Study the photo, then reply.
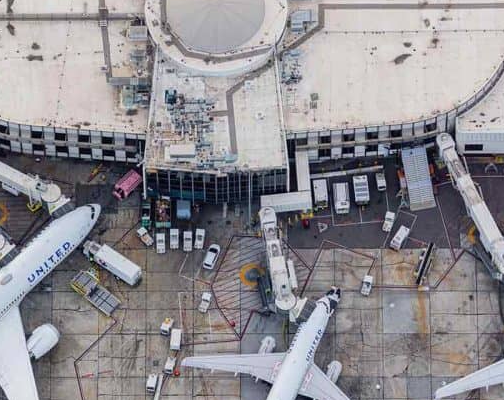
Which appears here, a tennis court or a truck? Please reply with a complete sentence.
The one in the frame is a truck.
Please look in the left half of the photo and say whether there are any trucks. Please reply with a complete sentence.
Yes, a truck is visible in the left half of the photo.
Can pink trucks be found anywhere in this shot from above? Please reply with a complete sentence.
Yes, a pink truck is visible in the scene.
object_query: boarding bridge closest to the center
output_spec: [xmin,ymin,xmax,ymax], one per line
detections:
[259,207,318,325]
